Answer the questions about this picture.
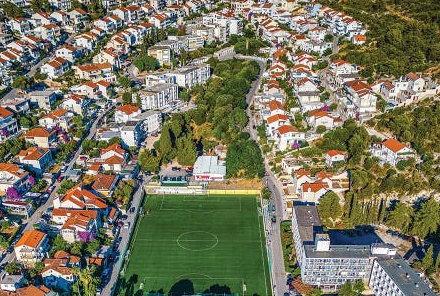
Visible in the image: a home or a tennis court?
home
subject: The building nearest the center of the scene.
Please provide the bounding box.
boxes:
[193,159,226,186]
